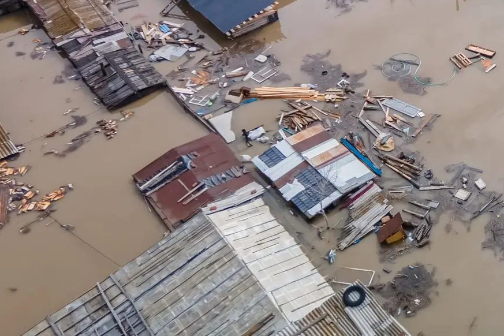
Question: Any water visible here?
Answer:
Yes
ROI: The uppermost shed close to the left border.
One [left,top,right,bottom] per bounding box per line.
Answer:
[21,0,168,112]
